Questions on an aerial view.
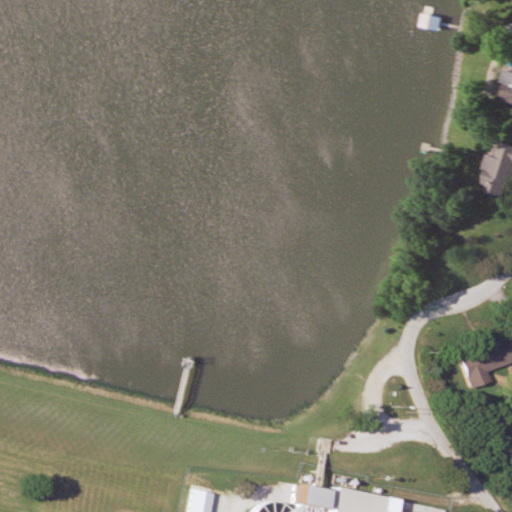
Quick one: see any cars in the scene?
No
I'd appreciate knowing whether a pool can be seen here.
No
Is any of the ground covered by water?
Yes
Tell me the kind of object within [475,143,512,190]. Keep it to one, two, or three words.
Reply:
house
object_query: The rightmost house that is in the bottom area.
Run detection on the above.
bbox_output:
[459,346,512,388]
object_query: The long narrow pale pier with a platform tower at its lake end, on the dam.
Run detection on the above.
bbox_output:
[174,358,193,414]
